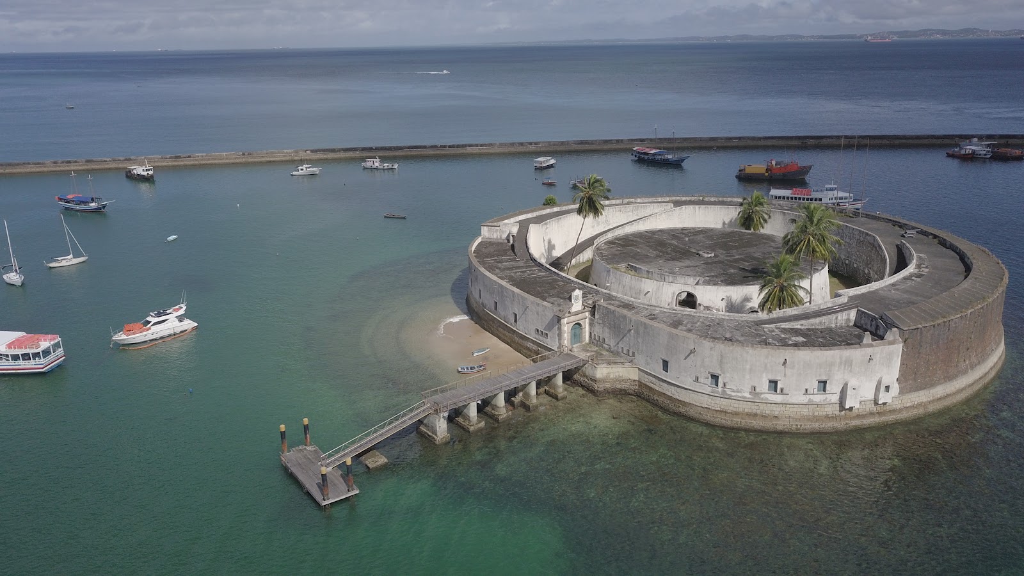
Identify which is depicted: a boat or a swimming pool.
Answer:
boat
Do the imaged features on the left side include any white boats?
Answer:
Yes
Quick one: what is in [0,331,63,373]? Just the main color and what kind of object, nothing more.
white boat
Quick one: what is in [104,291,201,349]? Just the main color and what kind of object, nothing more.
white boat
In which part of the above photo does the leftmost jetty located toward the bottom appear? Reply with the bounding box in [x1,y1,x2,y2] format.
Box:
[279,444,364,510]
